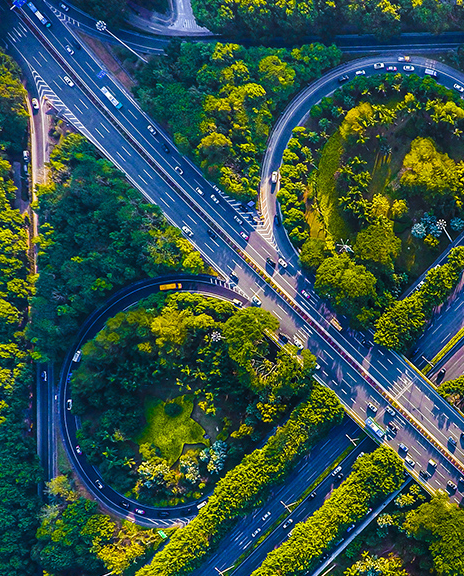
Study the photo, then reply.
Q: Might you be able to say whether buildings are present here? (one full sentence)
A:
No, there is no building in the image.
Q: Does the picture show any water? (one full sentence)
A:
No, no water is visible.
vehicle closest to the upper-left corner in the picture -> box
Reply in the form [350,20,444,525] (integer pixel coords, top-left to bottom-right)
[25,1,53,29]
